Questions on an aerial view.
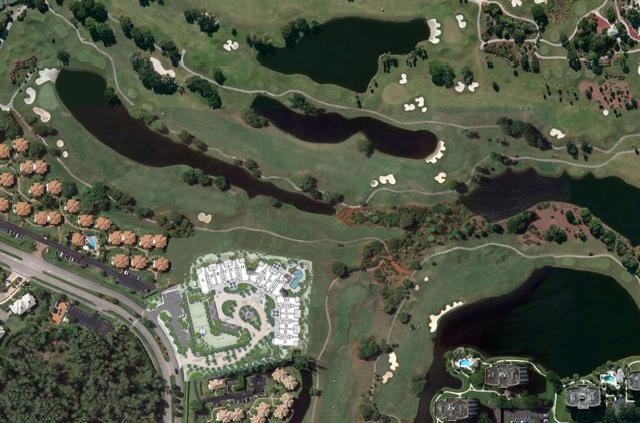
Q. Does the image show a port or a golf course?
golf course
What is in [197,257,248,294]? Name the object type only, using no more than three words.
building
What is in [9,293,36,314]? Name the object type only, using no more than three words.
house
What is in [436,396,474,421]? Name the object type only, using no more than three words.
building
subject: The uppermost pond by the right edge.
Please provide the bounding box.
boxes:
[462,169,640,245]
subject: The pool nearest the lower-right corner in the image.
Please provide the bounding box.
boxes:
[600,371,618,387]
